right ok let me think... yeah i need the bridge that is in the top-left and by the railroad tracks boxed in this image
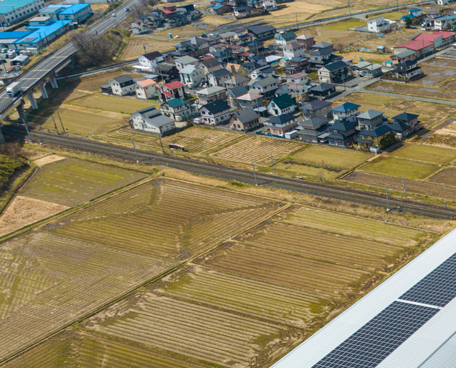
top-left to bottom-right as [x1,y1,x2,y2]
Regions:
[0,0,145,119]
